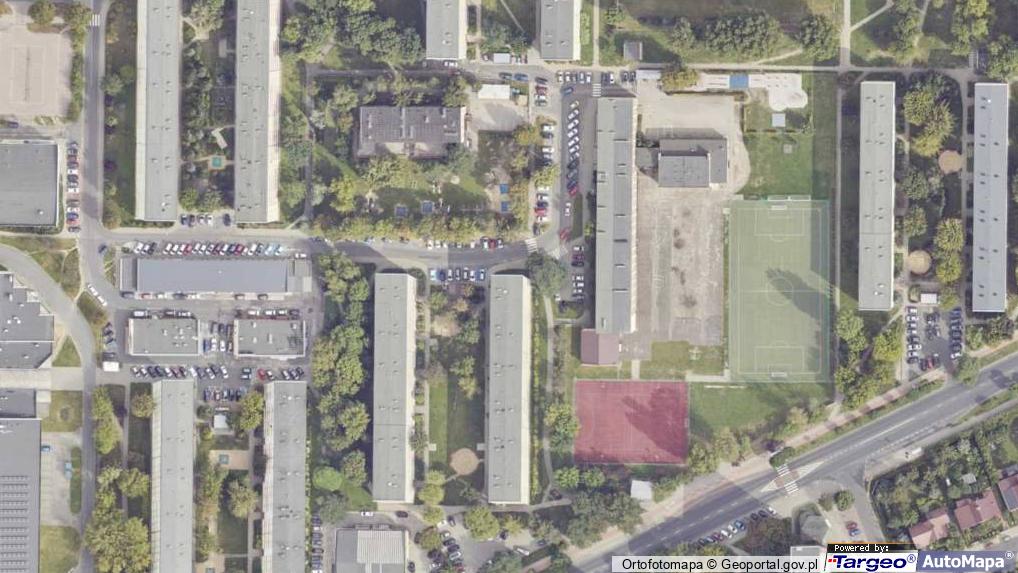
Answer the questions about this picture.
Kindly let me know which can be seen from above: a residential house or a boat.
residential house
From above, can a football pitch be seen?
Yes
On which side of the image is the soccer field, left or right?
right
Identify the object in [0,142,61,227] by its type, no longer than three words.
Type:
building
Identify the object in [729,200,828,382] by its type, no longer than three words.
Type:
soccer field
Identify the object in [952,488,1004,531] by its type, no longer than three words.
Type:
house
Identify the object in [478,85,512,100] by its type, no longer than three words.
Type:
building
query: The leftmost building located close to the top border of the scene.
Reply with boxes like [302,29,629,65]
[137,0,179,224]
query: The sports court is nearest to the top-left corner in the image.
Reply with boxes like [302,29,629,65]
[0,25,72,121]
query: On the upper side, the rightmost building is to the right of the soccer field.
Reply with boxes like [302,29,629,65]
[972,84,1007,312]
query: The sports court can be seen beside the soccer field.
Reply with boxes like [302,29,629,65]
[573,379,690,467]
